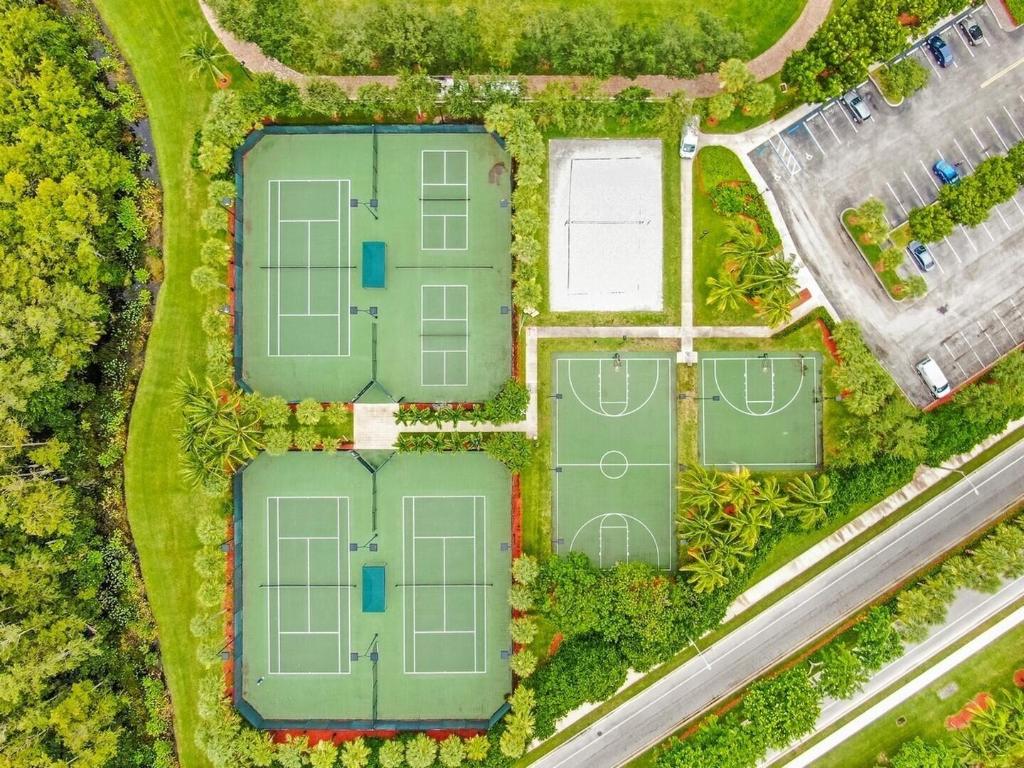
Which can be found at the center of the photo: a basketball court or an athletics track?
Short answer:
basketball court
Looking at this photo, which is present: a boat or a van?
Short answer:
van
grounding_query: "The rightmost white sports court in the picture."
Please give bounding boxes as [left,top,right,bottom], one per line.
[549,139,663,311]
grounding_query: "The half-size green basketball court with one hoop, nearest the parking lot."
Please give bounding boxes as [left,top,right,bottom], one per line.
[699,352,823,470]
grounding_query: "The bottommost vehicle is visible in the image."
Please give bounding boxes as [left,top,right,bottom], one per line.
[915,357,948,395]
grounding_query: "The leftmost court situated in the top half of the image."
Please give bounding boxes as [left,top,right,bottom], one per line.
[259,180,355,356]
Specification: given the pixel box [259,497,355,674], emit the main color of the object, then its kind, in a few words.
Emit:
green tennis court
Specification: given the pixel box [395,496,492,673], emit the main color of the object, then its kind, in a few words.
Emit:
green tennis court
